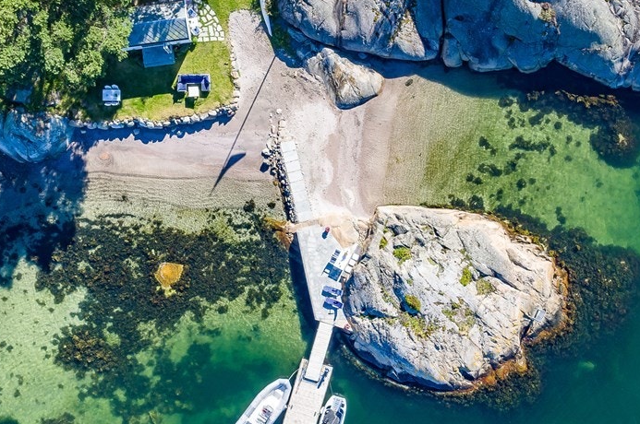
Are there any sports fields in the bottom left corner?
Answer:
No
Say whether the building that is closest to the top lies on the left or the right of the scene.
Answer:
left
